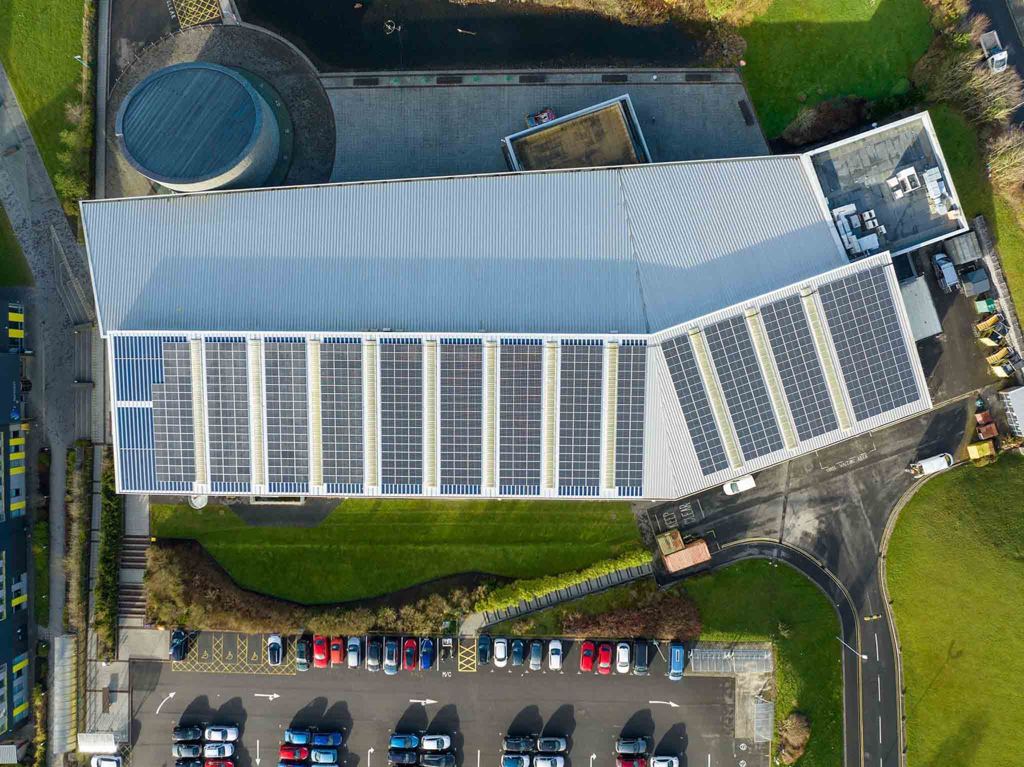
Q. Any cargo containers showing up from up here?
Yes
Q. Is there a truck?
Yes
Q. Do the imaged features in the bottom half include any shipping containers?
Yes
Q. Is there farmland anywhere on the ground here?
No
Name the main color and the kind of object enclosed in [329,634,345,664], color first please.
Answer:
red car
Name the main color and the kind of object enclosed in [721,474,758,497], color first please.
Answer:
white vehicle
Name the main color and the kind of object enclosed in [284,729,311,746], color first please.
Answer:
blue car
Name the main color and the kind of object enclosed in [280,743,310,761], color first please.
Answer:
red car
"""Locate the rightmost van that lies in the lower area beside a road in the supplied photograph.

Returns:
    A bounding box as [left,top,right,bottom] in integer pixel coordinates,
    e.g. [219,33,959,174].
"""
[905,452,955,484]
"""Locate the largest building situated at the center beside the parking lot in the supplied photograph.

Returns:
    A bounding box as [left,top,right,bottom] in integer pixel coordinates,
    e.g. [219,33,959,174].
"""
[78,153,932,510]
